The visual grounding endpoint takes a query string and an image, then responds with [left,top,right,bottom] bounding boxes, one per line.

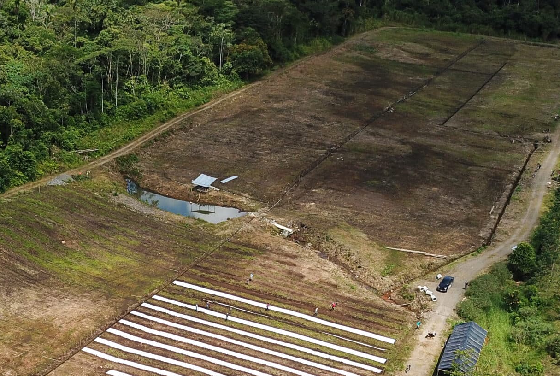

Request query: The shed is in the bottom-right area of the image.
[439,322,489,374]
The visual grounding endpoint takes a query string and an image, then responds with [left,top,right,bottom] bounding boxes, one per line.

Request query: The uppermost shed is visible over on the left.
[192,174,228,198]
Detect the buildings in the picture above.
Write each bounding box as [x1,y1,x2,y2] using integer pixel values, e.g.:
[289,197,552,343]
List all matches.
[439,322,489,374]
[192,174,228,198]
